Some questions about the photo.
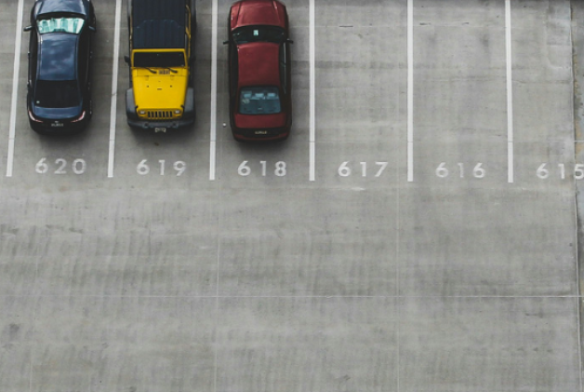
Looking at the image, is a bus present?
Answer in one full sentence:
No, no bus can be seen from above.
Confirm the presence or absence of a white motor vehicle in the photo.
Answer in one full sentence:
No, I find no white motor vehicle anywhere in the image.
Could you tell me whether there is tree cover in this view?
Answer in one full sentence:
No, there's no tree cover in this view.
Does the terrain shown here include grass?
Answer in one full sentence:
No, there is no grass in the image.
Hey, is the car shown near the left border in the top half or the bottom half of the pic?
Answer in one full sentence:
You can find the car shown near the left border in the top half.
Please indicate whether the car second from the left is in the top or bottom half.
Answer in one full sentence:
Seen from above, the car second from the left lies in the top half of the view.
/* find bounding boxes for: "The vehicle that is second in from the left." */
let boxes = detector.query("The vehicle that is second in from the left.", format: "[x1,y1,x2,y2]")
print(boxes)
[124,0,198,132]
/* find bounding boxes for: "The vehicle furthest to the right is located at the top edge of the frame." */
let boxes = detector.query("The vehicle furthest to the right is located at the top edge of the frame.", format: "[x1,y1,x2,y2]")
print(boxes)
[221,0,299,140]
